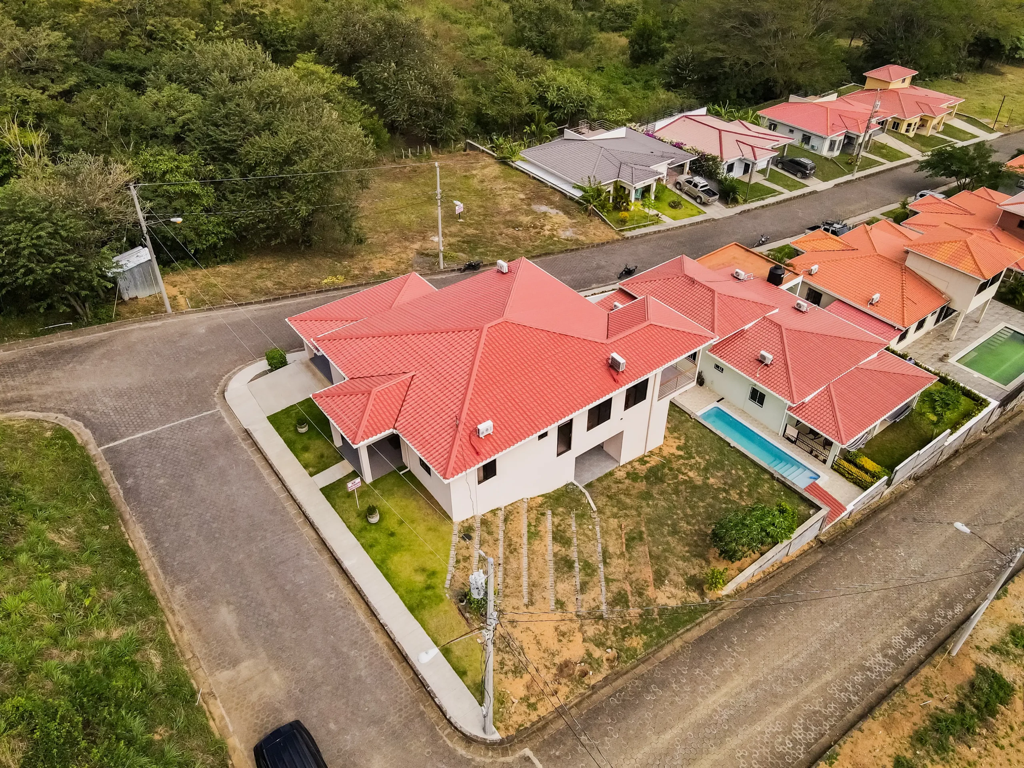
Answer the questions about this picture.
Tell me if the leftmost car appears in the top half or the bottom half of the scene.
bottom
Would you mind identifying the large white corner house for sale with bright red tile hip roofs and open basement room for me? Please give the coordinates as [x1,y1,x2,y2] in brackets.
[283,255,723,519]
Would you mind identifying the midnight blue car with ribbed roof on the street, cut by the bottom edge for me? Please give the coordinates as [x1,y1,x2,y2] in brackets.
[245,709,326,768]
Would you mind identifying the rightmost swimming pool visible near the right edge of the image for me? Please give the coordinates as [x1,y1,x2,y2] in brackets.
[949,319,1024,392]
